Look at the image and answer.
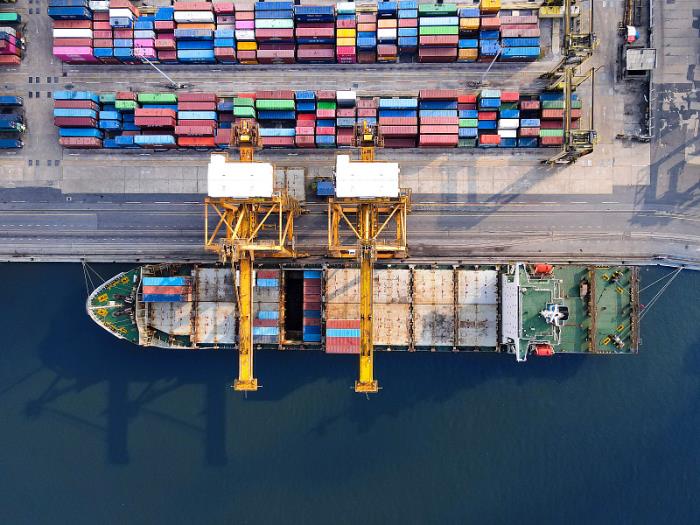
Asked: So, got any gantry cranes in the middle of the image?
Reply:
Yes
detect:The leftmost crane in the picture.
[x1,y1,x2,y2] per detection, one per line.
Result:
[205,117,307,401]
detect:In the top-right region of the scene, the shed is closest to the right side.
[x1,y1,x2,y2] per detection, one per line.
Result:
[620,46,657,81]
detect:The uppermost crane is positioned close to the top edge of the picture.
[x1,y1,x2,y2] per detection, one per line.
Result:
[536,0,601,76]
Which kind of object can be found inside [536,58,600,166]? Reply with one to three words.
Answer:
crane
